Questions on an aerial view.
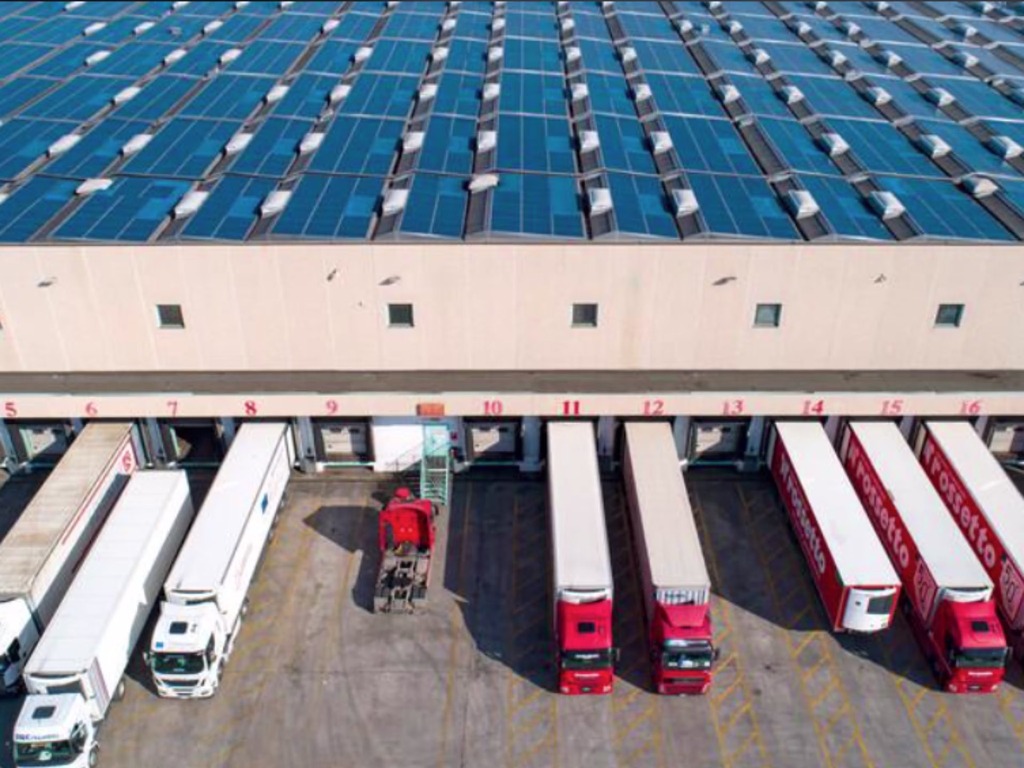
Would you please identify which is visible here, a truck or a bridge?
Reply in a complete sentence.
It is a truck that can be seen here.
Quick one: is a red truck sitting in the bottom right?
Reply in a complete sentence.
Yes, a red truck appears in the bottom right.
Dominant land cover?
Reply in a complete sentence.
For the most part, this view shows buildings.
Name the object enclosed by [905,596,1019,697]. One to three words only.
truck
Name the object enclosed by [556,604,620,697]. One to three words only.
truck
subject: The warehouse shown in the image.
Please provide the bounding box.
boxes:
[0,0,1024,479]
